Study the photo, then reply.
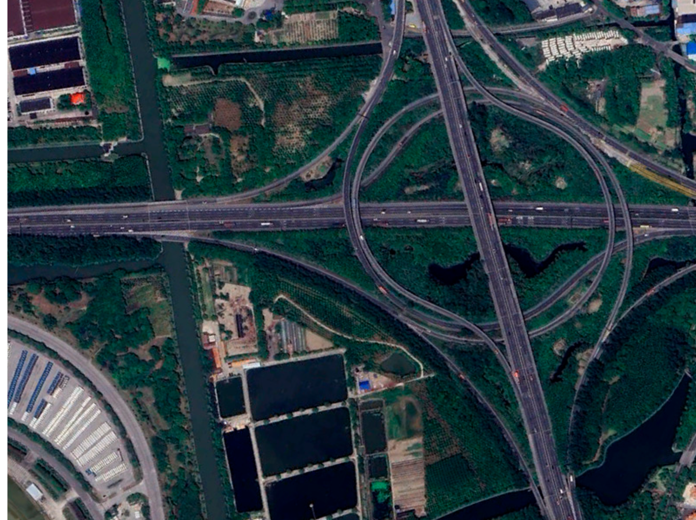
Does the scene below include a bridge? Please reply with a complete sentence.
Yes, there is a bridge in the image.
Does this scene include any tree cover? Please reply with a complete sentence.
Yes, the picture does contain tree cover.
